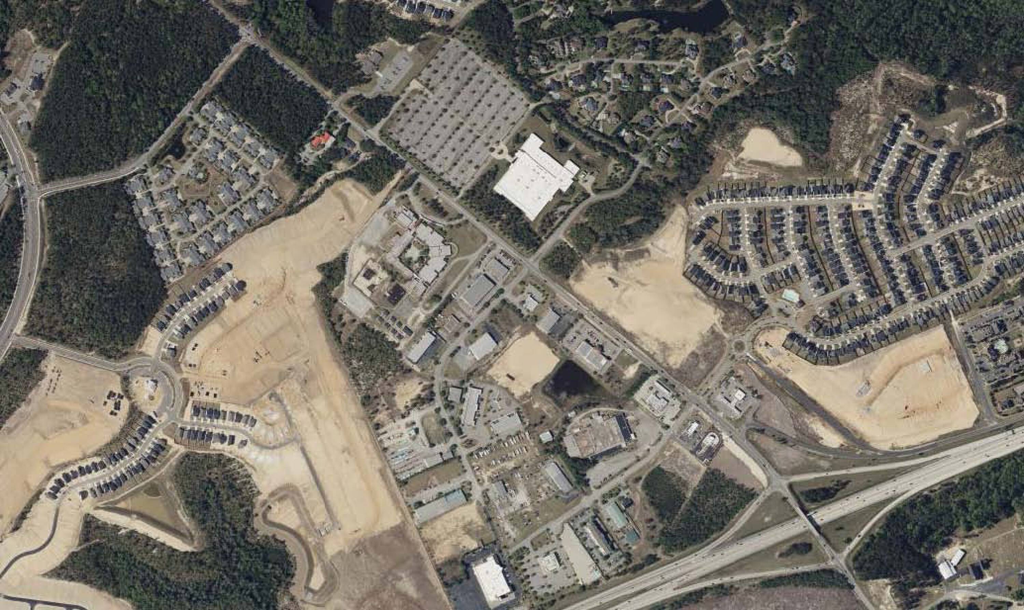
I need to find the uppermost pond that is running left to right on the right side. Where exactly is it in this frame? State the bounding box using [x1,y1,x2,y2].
[602,0,732,33]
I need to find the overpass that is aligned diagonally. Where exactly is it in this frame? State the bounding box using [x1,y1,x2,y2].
[775,481,849,574]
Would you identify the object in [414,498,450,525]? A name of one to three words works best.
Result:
building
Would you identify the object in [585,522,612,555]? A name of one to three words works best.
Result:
building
